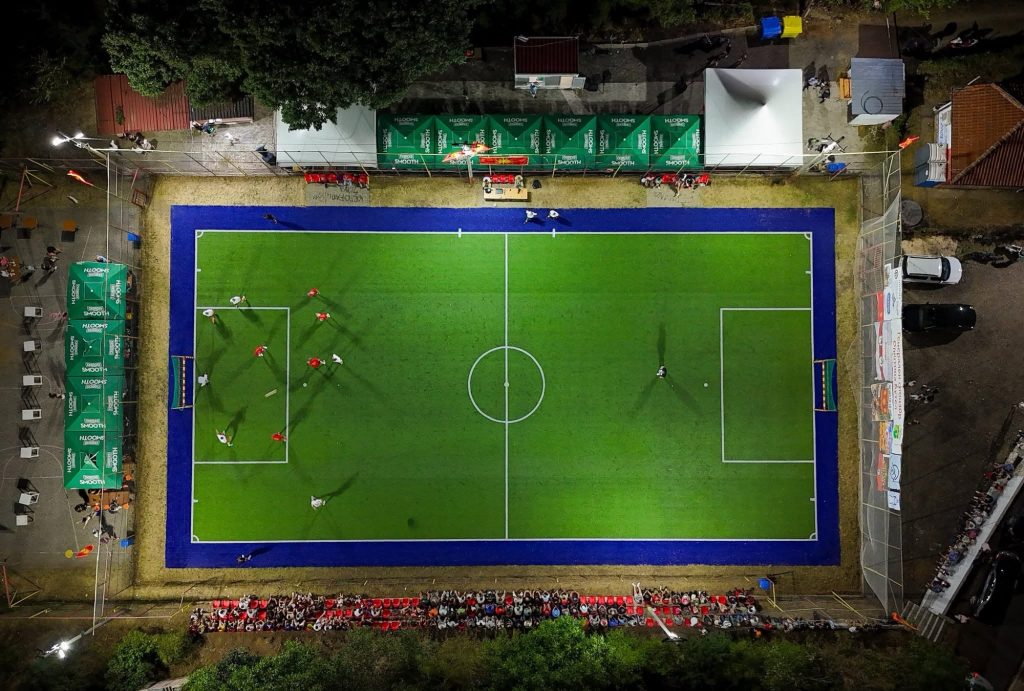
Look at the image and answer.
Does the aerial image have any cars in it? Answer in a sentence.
Yes, the image includes a car.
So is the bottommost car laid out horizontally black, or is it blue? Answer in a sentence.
The bottommost car laid out horizontally looks black in the image.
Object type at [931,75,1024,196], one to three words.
house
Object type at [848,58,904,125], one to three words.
shed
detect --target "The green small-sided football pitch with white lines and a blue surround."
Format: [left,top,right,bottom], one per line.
[165,206,841,568]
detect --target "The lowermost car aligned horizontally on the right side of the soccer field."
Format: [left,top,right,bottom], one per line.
[898,300,974,334]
